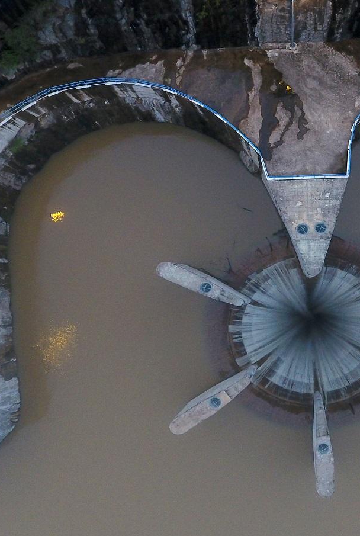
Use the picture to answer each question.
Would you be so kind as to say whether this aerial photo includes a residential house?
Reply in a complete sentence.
No, I can see no residential house in this picture.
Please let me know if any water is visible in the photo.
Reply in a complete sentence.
Yes, water shows up in the scene.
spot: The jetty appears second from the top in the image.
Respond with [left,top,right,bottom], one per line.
[157,260,268,308]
